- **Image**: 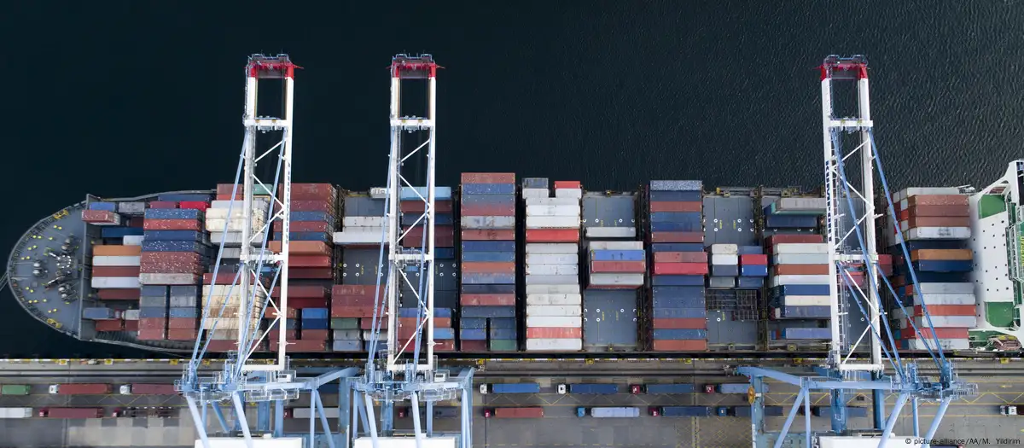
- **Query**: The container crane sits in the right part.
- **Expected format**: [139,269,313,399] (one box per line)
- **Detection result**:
[715,51,968,448]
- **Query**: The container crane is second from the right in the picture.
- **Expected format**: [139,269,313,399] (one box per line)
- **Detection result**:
[343,52,495,448]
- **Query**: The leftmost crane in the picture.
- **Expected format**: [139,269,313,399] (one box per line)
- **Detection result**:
[168,51,378,448]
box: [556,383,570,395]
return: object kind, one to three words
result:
vehicle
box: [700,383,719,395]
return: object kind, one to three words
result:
vehicle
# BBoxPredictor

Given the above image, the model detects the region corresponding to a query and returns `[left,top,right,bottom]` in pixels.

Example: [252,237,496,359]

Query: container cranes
[168,51,378,448]
[715,51,968,448]
[343,52,495,448]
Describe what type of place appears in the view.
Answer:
port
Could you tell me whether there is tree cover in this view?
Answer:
No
